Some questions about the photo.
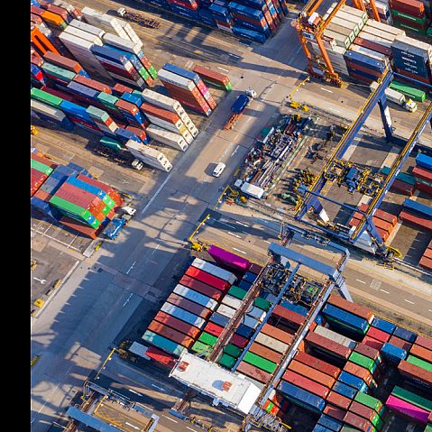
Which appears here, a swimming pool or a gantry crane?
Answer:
gantry crane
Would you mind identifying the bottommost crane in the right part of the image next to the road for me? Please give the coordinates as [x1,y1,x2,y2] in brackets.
[166,224,357,432]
